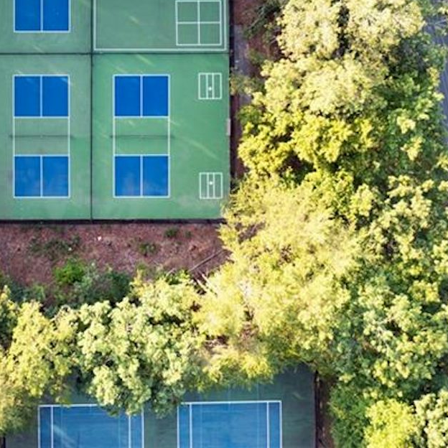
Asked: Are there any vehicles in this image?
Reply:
No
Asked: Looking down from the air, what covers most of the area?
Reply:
trees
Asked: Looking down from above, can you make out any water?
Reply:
No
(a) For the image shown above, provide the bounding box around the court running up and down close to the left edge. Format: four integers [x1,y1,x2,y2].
[13,75,70,198]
